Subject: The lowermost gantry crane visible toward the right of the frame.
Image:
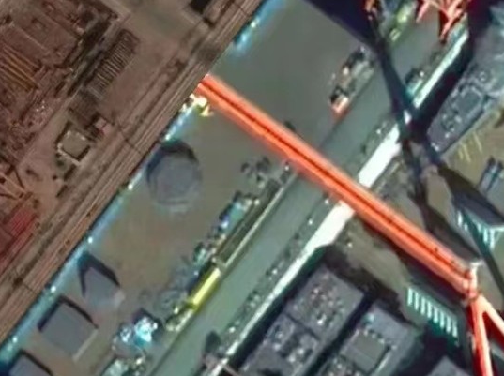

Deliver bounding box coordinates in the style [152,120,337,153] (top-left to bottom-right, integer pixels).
[197,73,504,376]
